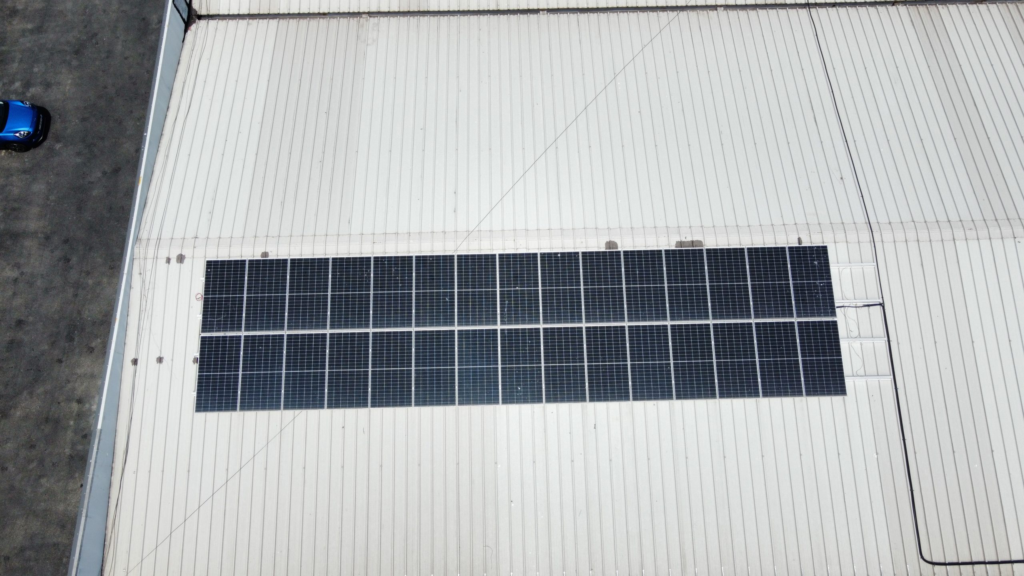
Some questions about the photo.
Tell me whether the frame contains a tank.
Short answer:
No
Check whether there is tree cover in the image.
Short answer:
No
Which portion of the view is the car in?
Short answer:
top left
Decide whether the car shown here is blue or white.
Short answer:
blue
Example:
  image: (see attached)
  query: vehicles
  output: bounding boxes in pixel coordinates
[0,103,44,151]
